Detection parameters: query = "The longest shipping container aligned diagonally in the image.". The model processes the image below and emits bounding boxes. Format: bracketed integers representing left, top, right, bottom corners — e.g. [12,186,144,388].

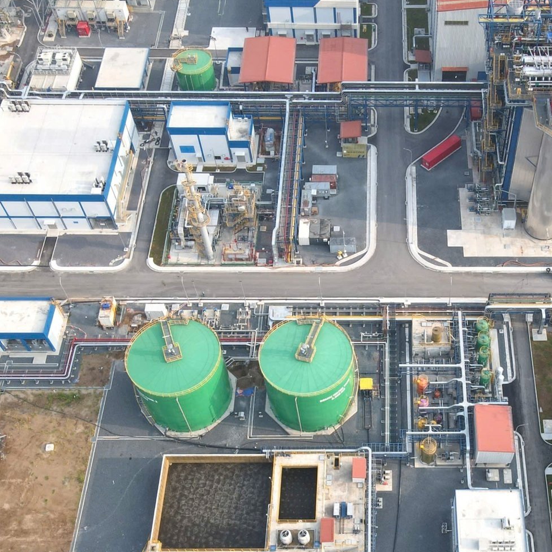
[421,134,462,171]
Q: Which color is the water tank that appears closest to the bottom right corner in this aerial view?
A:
green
